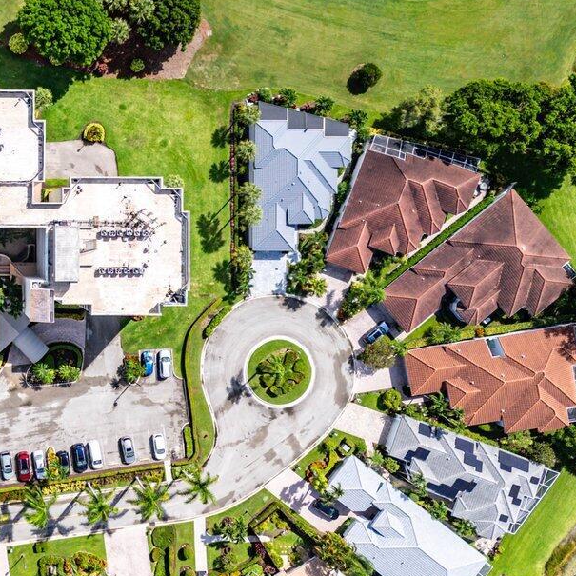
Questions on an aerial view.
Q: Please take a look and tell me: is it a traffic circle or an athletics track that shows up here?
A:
traffic circle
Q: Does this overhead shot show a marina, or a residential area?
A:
residential area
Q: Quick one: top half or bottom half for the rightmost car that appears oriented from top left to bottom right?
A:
bottom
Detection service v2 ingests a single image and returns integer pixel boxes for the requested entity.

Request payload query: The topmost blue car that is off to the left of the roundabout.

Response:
[140,350,154,378]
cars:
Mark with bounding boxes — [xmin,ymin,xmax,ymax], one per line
[70,442,87,474]
[32,450,46,480]
[55,444,70,476]
[140,350,154,378]
[157,349,171,378]
[0,451,12,480]
[151,432,165,461]
[119,436,133,464]
[363,319,393,344]
[309,496,340,521]
[17,451,31,482]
